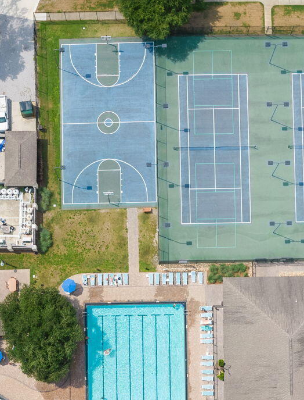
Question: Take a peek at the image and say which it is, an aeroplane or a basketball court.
basketball court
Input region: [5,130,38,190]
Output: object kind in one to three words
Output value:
shed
